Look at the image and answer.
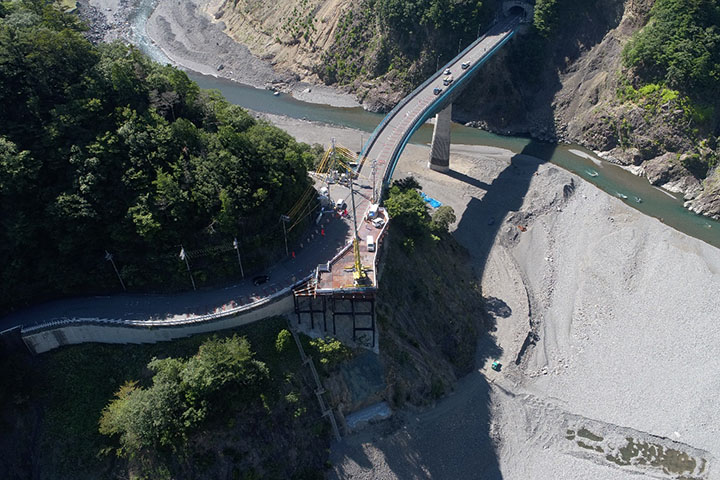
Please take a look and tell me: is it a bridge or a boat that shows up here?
bridge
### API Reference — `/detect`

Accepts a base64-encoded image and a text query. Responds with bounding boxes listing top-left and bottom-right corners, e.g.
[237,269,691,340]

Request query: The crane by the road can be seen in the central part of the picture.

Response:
[341,232,375,288]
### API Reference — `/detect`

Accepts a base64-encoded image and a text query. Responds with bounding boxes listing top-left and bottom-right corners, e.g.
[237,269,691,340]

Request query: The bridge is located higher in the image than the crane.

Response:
[357,13,529,193]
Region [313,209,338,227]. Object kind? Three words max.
vehicle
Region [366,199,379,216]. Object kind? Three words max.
vehicle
